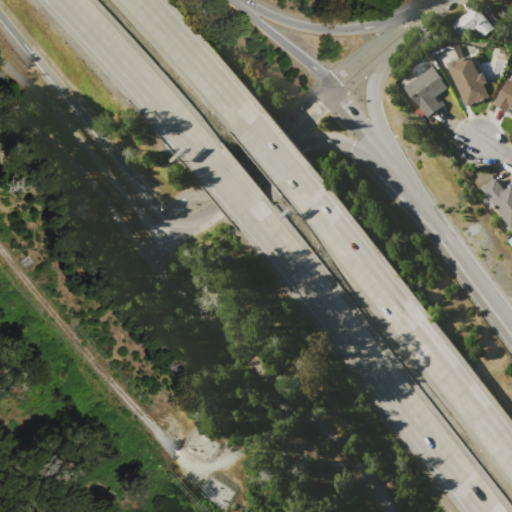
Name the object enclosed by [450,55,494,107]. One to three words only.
house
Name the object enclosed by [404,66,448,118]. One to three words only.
house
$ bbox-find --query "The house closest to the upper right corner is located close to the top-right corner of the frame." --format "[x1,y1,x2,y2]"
[458,9,492,36]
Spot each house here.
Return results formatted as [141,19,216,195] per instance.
[404,66,448,118]
[482,178,512,240]
[496,79,512,115]
[450,55,494,107]
[458,9,492,36]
